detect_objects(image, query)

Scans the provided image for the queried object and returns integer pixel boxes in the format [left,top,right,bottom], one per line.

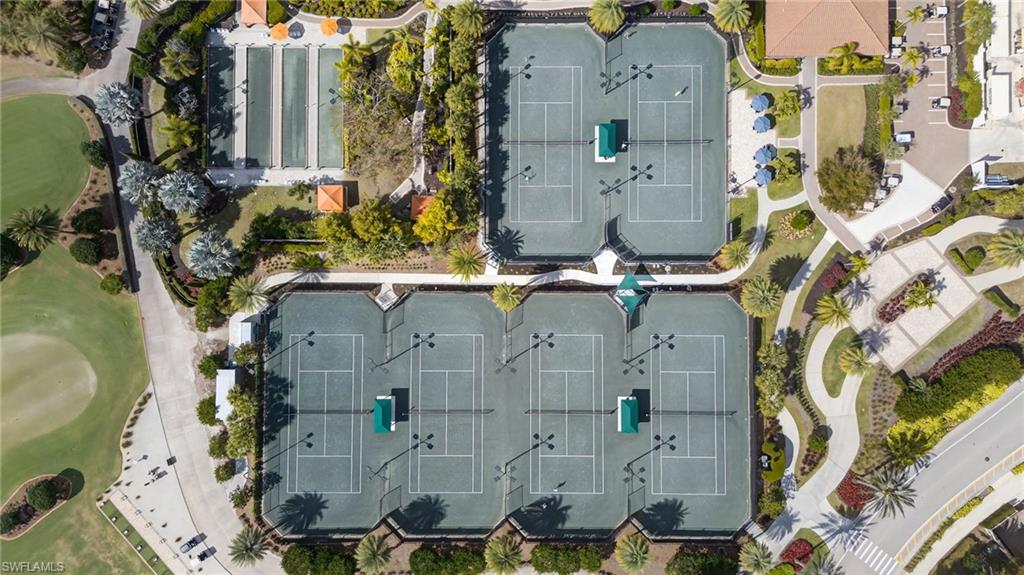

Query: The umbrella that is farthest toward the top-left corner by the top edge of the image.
[272,24,289,41]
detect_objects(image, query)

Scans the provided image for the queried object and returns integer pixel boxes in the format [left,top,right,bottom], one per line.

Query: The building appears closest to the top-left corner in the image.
[242,0,273,29]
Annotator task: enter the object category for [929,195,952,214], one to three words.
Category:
car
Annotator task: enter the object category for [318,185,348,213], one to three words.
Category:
building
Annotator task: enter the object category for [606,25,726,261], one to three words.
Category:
tennis court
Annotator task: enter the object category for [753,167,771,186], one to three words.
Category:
umbrella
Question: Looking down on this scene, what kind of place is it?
sports ground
